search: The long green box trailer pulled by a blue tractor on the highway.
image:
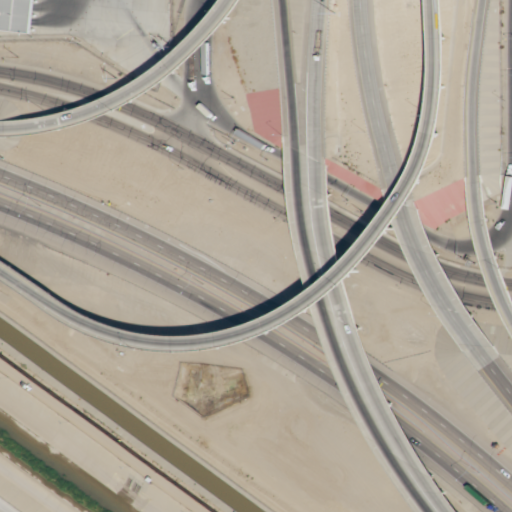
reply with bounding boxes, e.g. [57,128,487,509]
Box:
[464,482,501,512]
